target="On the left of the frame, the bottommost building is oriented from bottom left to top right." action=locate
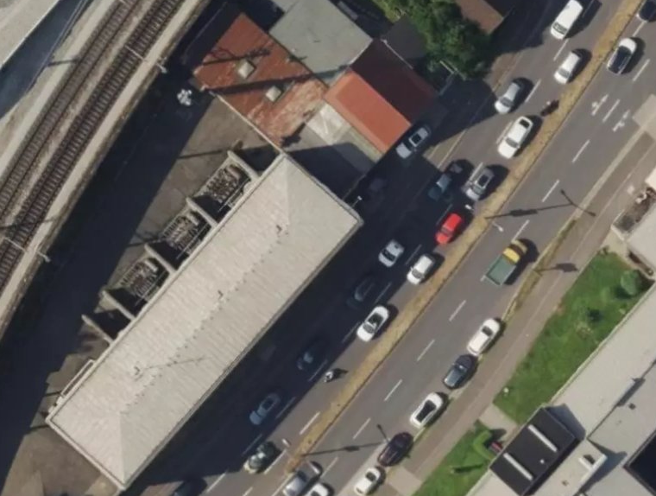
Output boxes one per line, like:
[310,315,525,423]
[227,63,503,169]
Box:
[46,150,364,490]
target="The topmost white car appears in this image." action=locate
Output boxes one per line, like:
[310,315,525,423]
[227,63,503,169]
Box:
[551,0,584,39]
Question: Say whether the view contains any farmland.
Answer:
No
